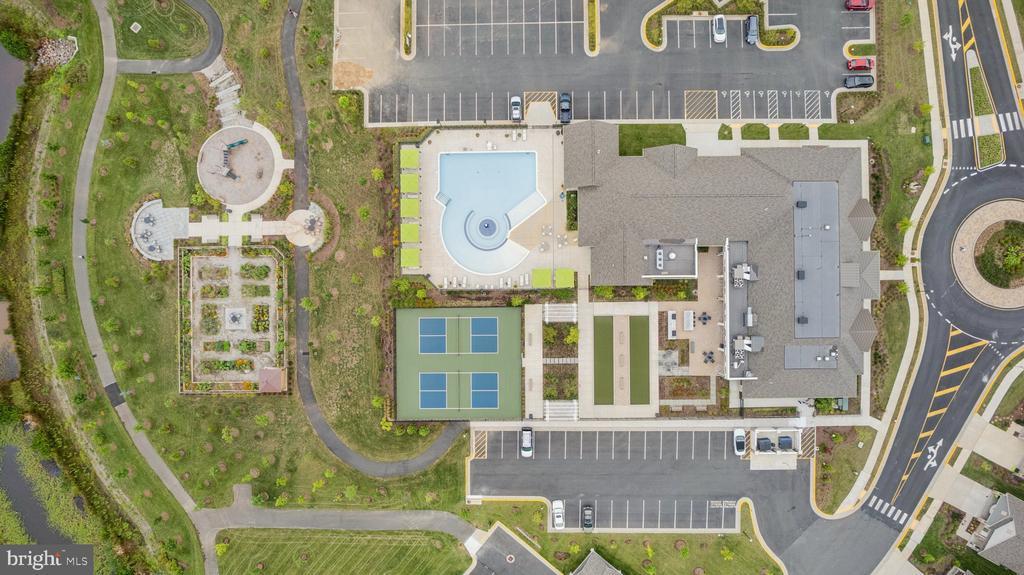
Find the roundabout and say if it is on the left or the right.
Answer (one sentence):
The roundabout is on the right side of the image.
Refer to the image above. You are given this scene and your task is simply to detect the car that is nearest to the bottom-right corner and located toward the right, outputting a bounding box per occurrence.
[732,427,747,456]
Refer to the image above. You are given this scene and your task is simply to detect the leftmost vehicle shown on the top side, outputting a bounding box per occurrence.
[509,96,522,122]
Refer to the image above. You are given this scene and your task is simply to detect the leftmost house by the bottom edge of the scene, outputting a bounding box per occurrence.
[567,547,625,575]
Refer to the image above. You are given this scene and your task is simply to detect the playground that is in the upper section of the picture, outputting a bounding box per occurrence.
[196,125,278,207]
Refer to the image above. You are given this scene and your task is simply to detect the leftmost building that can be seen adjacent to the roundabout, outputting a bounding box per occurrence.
[564,121,880,397]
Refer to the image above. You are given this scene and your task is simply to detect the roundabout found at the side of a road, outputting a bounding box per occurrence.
[924,170,1024,338]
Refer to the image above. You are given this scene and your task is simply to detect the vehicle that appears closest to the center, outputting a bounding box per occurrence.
[519,426,534,457]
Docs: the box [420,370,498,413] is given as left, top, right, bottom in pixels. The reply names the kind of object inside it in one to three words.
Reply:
sports court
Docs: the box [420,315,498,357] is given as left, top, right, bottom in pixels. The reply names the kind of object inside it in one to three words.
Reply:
sports court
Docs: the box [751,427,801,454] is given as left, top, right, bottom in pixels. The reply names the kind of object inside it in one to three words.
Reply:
building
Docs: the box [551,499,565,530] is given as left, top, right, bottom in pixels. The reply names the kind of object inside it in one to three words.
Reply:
car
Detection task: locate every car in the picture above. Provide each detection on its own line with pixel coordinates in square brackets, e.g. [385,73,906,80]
[519,426,534,457]
[582,501,595,531]
[509,96,522,122]
[842,74,873,89]
[551,499,565,530]
[712,14,727,45]
[745,14,759,46]
[845,58,873,71]
[732,427,747,456]
[841,0,872,11]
